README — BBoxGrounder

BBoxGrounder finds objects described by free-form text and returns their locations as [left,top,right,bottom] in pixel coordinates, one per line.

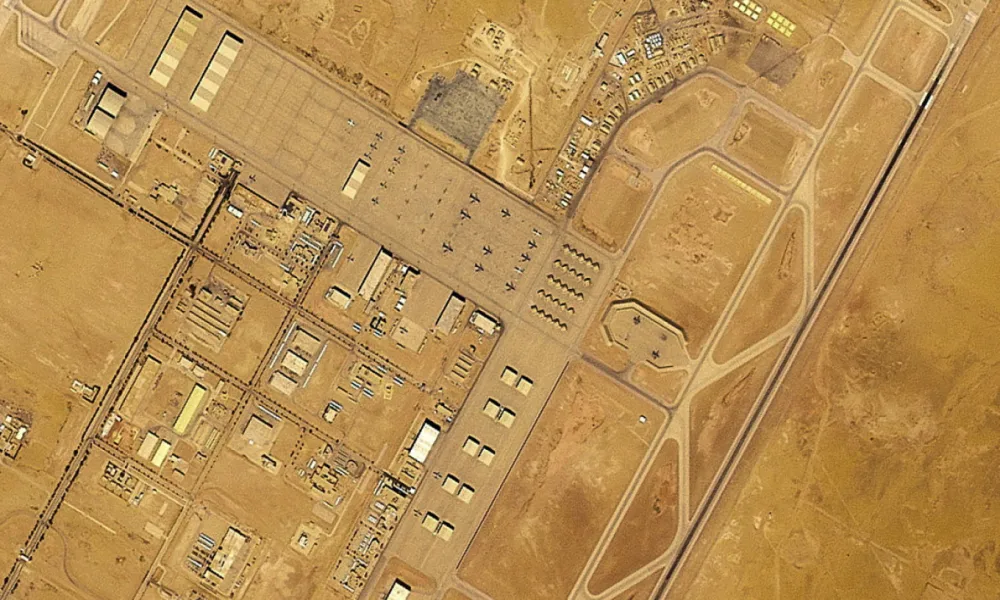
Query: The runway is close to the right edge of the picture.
[648,0,989,600]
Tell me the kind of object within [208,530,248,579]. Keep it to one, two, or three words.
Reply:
building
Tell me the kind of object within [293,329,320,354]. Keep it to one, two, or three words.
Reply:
building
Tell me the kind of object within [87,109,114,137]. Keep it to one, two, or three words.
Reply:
hangar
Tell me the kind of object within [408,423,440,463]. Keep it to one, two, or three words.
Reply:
hangar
